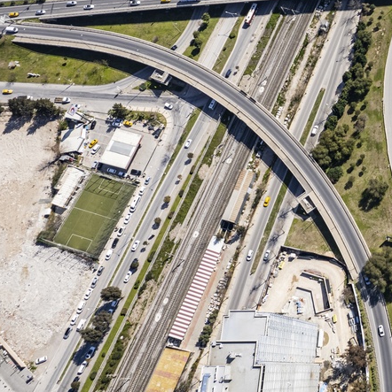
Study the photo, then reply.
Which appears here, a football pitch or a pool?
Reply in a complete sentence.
It is a football pitch that can be seen here.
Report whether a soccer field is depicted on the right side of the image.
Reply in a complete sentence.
No, there is no soccer field on the right side of the image.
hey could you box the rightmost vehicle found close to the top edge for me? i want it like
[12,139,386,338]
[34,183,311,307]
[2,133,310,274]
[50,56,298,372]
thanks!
[244,2,261,27]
